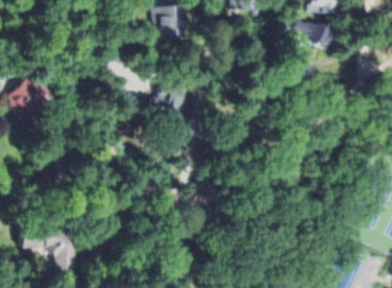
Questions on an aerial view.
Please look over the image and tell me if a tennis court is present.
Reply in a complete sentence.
Yes, there is a tennis court in the image.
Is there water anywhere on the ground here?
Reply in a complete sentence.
No, there is no water in the image.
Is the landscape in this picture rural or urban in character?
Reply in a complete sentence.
From above, the setting appears rural.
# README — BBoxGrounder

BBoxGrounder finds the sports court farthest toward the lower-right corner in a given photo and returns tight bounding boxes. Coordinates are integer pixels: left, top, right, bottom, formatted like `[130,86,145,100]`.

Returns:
[352,256,387,288]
